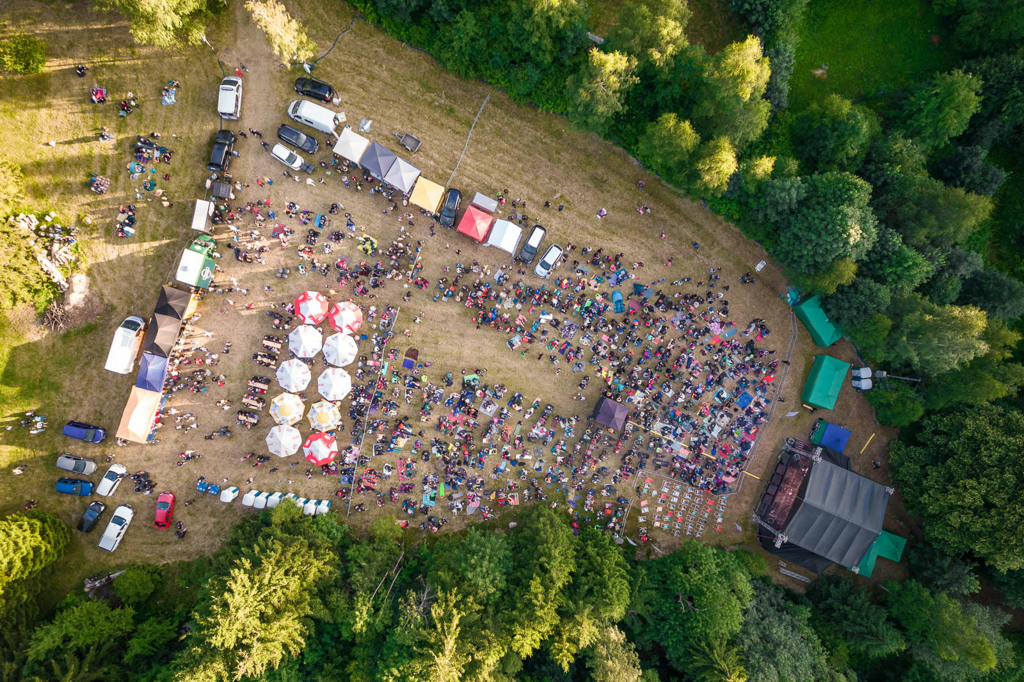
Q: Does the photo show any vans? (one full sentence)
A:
Yes, this view includes a van.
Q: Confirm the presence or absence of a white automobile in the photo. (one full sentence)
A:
Yes, there's a white automobile down there.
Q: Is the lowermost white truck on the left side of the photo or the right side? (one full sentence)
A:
It is on the left.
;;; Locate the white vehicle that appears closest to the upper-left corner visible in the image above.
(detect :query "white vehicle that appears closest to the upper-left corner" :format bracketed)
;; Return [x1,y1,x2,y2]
[219,78,246,124]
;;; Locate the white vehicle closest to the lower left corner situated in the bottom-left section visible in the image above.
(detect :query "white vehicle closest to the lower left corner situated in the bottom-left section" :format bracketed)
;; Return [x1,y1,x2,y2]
[100,501,139,552]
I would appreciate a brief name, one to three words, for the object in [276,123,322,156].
car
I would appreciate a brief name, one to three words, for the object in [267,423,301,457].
umbrella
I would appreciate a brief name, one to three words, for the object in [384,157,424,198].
gazebo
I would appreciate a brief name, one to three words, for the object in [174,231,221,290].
truck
